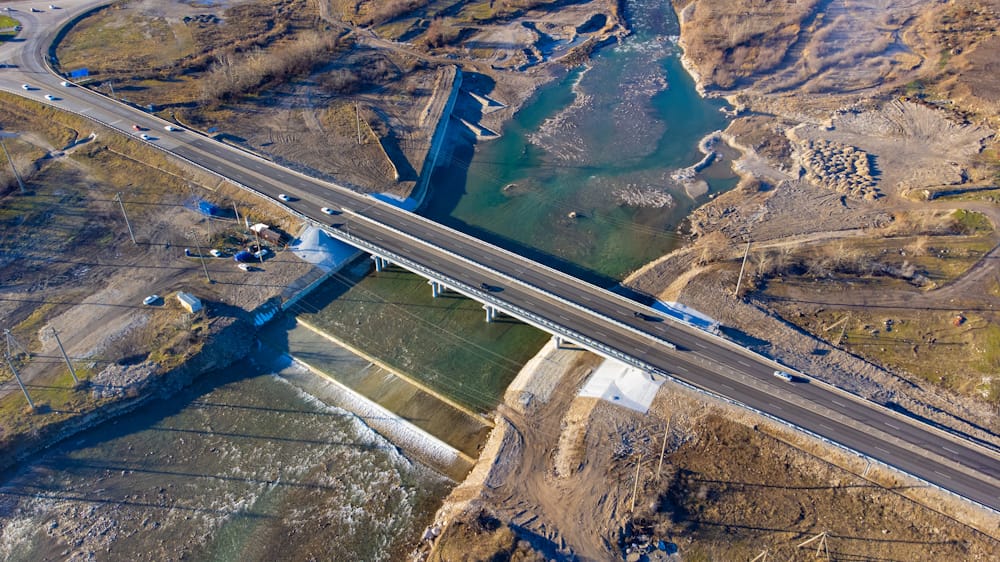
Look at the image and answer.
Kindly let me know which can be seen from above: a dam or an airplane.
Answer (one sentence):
Visible in the photo is a dam.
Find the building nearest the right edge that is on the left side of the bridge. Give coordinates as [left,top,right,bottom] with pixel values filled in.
[256,227,282,244]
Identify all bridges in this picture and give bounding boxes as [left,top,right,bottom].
[317,195,687,370]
